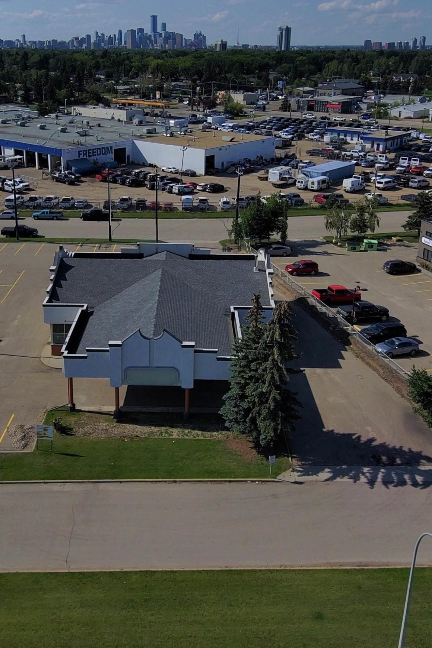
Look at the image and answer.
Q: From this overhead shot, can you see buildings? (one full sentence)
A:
Yes, there's a building here.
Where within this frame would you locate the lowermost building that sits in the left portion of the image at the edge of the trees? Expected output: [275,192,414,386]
[41,240,275,415]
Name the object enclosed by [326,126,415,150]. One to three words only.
building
